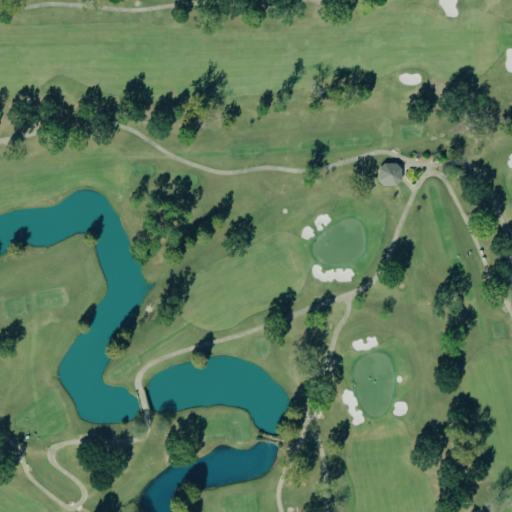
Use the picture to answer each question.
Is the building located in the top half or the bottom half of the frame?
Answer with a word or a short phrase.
top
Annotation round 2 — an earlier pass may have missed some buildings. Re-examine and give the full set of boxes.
[379,163,402,186]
